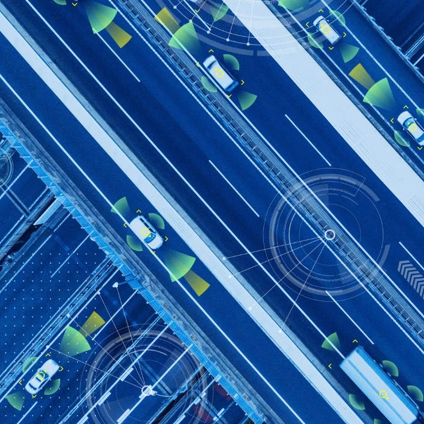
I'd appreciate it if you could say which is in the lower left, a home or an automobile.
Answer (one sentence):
It is an automobile that can be seen in the lower left.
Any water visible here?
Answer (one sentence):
No, the scene doesn't show any water.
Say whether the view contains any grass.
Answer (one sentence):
No, the picture contains no grass.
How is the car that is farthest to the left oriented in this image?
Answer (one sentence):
In this picture, the car that is farthest to the left lies diagonally.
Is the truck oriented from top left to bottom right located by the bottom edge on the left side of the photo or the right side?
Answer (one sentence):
It is on the right.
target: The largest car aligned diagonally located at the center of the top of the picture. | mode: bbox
[203,55,239,93]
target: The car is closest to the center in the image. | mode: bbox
[128,213,166,250]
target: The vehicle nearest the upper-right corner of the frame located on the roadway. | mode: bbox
[313,15,342,45]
